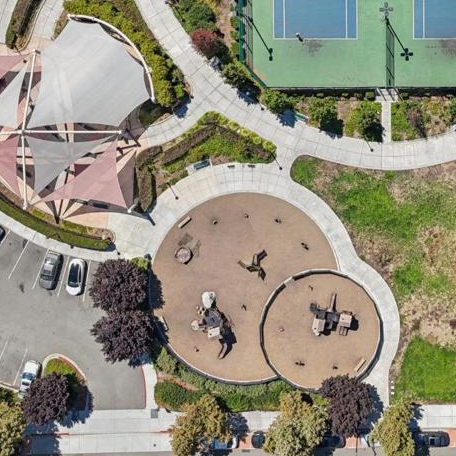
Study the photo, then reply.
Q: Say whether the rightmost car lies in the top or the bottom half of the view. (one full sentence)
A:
It is in the bottom half that the rightmost car appears.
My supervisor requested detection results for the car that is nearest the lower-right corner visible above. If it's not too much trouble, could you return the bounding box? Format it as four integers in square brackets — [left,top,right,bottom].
[415,429,450,449]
